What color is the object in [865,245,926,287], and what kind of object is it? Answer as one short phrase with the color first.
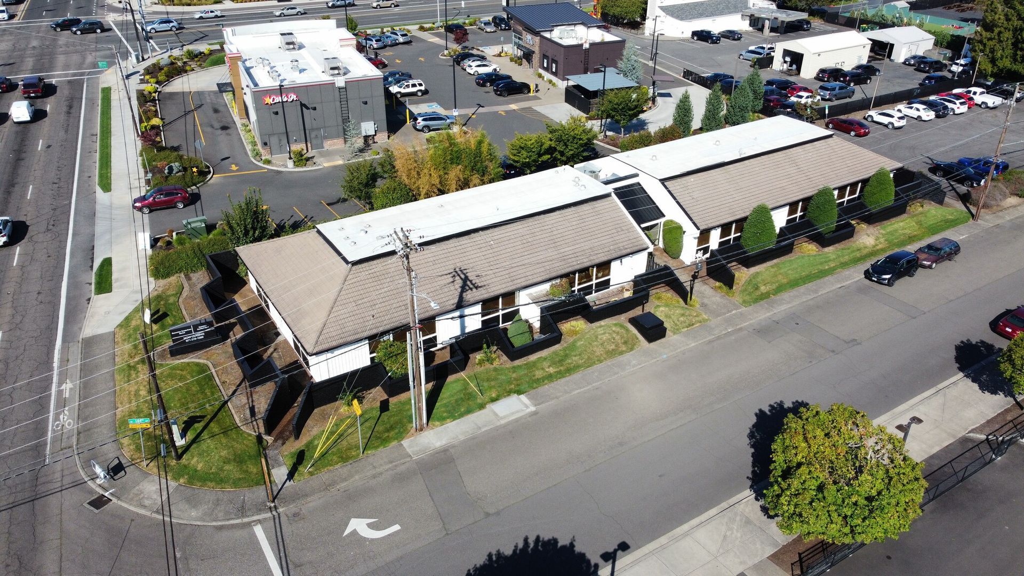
black car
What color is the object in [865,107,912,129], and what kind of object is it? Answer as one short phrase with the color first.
white car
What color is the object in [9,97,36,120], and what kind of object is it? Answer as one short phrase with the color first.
white vehicle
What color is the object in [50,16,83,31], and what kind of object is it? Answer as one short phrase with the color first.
black car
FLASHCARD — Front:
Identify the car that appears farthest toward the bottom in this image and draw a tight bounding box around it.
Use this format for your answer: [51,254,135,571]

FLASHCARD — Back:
[991,300,1024,335]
